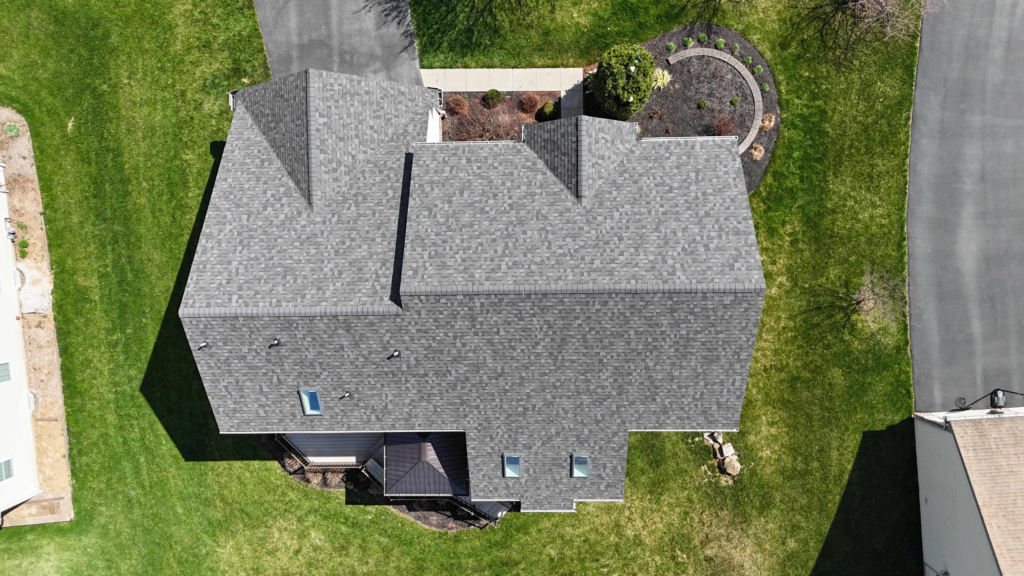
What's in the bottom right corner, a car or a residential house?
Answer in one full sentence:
You can see a residential house in the bottom right corner.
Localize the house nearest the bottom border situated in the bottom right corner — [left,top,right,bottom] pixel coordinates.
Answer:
[909,408,1024,576]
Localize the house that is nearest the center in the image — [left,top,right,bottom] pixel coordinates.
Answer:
[178,68,766,514]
